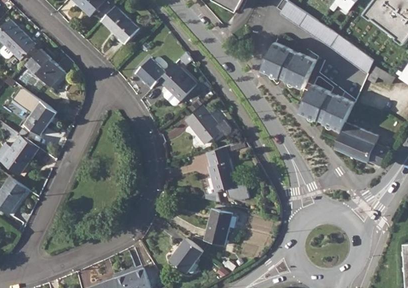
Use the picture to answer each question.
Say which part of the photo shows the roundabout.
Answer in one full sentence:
Look in the bottom right portion of the view to spot the roundabout.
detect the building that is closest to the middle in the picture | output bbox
[186,104,232,150]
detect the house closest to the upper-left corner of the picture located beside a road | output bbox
[0,19,38,61]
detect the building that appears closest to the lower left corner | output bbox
[0,176,32,217]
